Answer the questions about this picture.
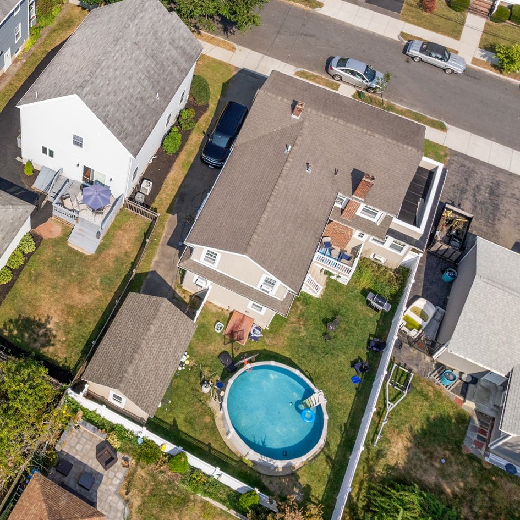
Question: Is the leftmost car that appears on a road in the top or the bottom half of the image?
top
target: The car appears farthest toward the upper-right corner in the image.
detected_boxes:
[403,39,467,76]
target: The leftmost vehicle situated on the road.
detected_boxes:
[326,55,388,94]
